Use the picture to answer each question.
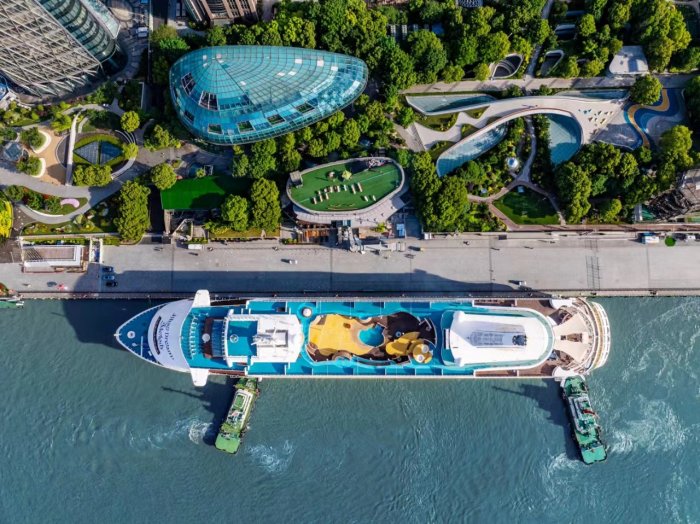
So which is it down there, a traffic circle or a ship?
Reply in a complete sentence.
It is a ship that can be seen here.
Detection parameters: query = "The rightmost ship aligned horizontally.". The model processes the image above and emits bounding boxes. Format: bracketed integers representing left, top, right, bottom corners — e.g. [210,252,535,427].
[107,290,611,386]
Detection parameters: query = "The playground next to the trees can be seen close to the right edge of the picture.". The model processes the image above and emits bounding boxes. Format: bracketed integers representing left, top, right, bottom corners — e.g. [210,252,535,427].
[621,86,699,154]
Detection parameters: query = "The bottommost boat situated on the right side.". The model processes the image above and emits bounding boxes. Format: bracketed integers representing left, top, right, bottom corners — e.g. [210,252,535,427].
[563,376,608,466]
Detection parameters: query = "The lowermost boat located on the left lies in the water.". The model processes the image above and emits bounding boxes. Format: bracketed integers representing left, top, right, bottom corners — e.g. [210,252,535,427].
[216,378,265,455]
